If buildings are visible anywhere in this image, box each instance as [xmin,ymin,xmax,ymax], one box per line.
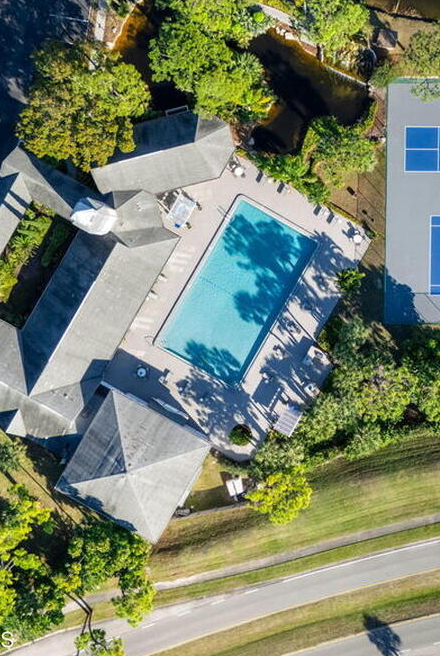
[0,112,234,438]
[55,384,213,543]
